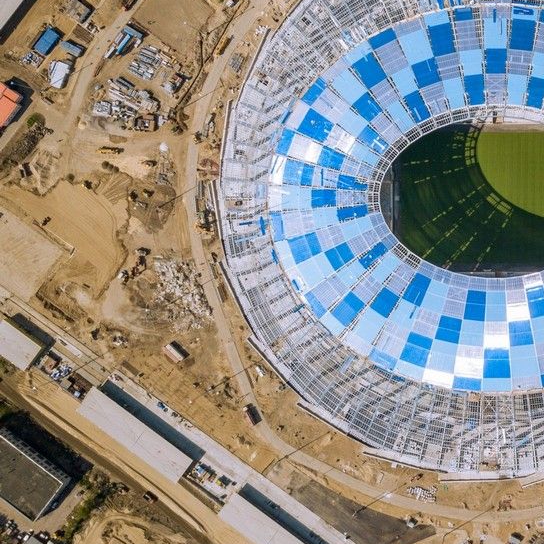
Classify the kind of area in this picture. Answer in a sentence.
The area seen from above is a sports ground.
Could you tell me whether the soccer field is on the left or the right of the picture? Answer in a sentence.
The soccer field is on the right side of the image.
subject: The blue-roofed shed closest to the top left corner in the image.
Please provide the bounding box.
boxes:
[34,26,64,56]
